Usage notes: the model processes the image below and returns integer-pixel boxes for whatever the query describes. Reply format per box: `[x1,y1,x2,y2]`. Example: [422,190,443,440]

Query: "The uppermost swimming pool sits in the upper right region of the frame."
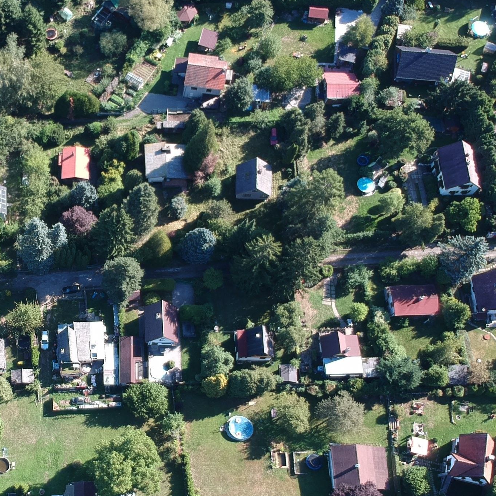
[470,22,490,39]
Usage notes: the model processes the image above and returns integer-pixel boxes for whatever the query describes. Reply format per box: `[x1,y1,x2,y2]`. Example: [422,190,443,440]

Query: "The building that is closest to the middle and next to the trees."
[234,158,272,206]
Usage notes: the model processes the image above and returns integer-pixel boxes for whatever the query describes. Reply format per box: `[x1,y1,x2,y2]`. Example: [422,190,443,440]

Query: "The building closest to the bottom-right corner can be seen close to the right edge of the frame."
[440,432,496,486]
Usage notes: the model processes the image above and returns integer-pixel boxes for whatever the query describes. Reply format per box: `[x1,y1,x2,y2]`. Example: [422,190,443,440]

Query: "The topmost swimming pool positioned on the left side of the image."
[150,360,169,379]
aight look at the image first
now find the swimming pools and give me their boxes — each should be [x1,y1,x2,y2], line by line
[470,22,490,39]
[227,416,253,442]
[354,177,375,194]
[150,360,169,379]
[0,454,14,478]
